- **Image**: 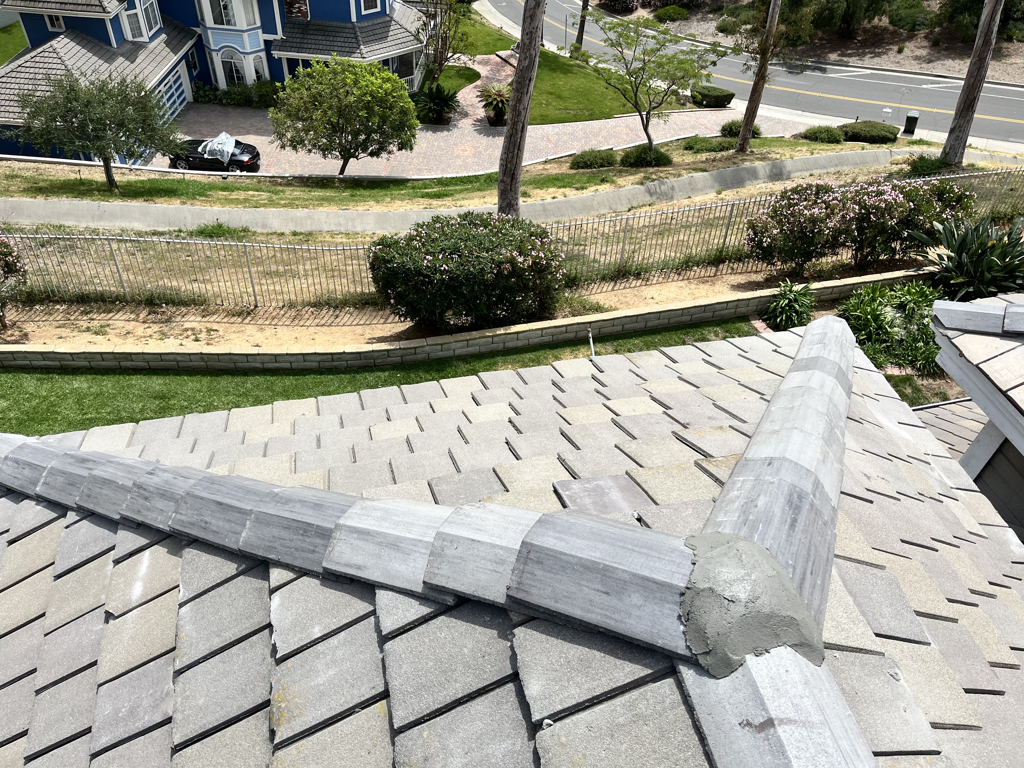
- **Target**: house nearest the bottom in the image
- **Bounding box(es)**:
[0,295,1024,768]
